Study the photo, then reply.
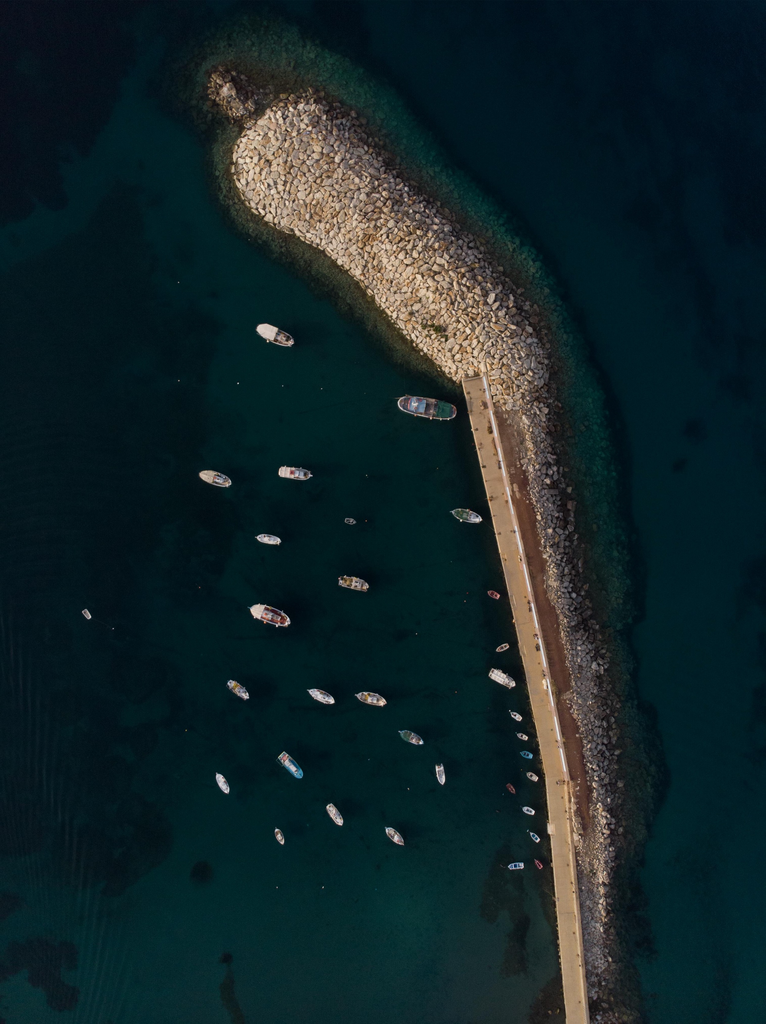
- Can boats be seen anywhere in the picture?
Yes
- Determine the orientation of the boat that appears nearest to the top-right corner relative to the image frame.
from side to side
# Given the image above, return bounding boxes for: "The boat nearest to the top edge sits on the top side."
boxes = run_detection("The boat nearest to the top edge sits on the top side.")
[255,324,294,345]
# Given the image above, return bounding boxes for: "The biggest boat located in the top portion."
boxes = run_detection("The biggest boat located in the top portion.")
[398,395,457,417]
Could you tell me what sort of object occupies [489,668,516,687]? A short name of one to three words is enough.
boat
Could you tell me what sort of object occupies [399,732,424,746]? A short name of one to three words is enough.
boat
